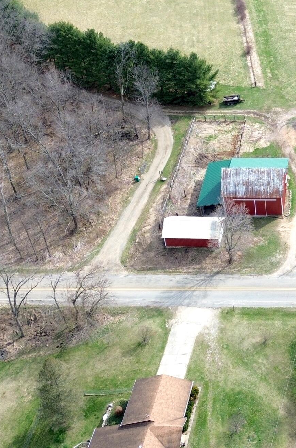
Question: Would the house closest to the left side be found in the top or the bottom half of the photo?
bottom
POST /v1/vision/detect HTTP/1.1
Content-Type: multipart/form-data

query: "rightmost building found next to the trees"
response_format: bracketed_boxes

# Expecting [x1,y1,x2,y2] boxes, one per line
[197,158,289,215]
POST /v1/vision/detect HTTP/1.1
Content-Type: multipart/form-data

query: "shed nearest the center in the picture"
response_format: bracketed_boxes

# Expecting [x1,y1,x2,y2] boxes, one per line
[162,211,227,247]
